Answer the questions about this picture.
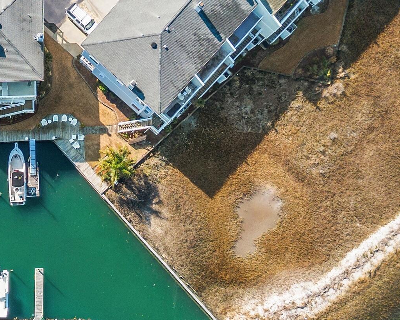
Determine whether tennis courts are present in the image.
No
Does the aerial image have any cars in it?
Yes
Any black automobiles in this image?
No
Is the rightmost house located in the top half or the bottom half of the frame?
top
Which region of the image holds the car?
top left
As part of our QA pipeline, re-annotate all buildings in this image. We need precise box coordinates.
[75,0,314,140]
[0,0,46,120]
